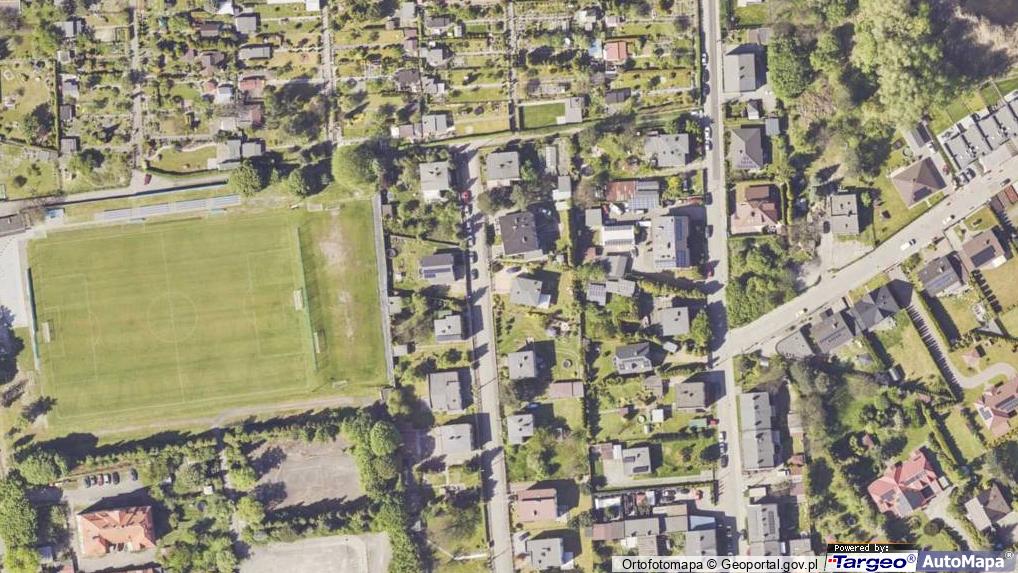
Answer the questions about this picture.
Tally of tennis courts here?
none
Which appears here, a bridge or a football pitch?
football pitch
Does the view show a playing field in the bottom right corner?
No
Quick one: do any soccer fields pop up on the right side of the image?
No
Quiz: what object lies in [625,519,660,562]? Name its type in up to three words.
house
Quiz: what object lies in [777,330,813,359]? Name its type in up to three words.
building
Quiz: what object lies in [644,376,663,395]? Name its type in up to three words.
shed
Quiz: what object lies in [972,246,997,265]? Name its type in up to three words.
solar panel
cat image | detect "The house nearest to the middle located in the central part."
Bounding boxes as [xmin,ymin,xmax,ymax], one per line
[510,276,552,308]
